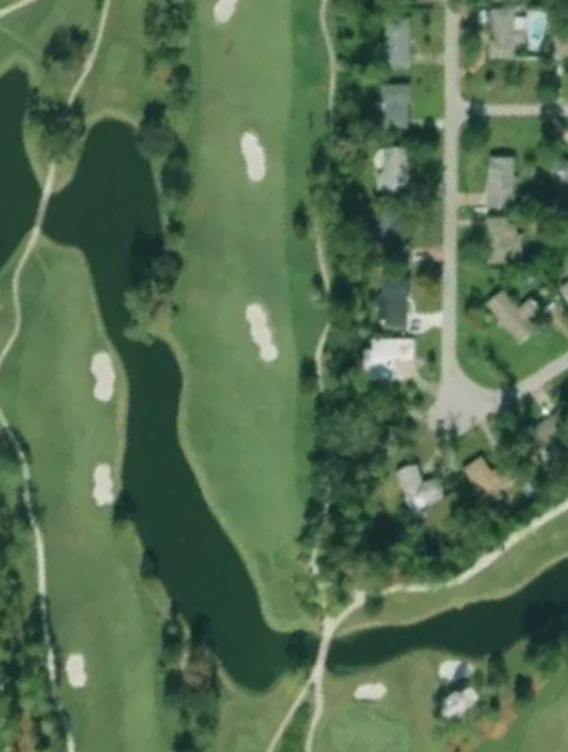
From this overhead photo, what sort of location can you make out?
golf course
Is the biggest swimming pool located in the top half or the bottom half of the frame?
top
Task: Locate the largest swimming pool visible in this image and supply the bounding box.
[527,10,547,51]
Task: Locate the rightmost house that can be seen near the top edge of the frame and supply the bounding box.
[488,10,530,59]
